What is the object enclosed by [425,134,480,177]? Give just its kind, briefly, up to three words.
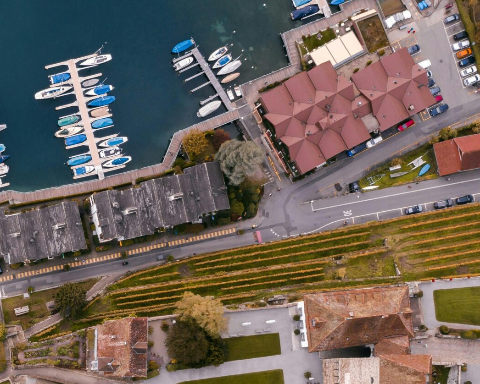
building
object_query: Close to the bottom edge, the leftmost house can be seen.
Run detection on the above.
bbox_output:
[91,318,148,377]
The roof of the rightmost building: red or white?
red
